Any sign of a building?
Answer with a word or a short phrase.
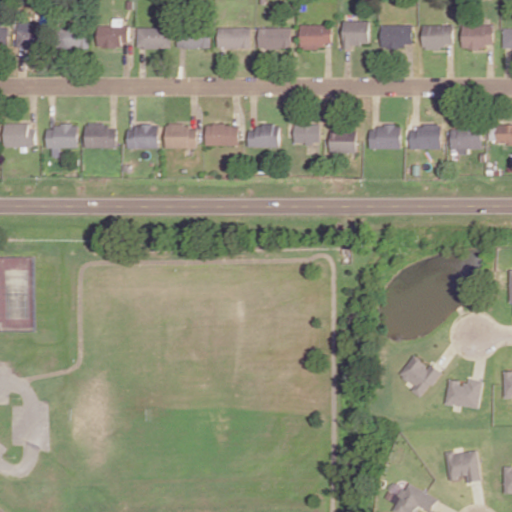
Yes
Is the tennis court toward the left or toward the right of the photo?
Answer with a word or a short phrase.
left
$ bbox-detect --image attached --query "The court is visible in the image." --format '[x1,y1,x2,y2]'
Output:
[0,257,35,330]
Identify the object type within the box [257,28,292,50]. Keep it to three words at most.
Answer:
house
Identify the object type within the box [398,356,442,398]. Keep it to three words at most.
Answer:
house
